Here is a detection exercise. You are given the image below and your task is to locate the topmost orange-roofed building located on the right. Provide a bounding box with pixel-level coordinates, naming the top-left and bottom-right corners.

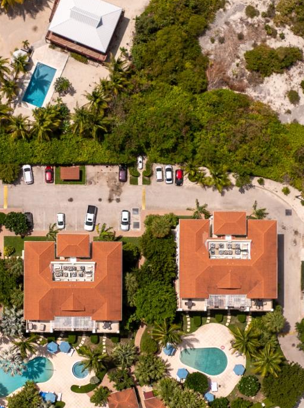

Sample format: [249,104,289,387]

[176,212,277,311]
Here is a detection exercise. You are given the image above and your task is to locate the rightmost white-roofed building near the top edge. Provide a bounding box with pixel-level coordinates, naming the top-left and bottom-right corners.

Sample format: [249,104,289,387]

[45,0,121,60]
